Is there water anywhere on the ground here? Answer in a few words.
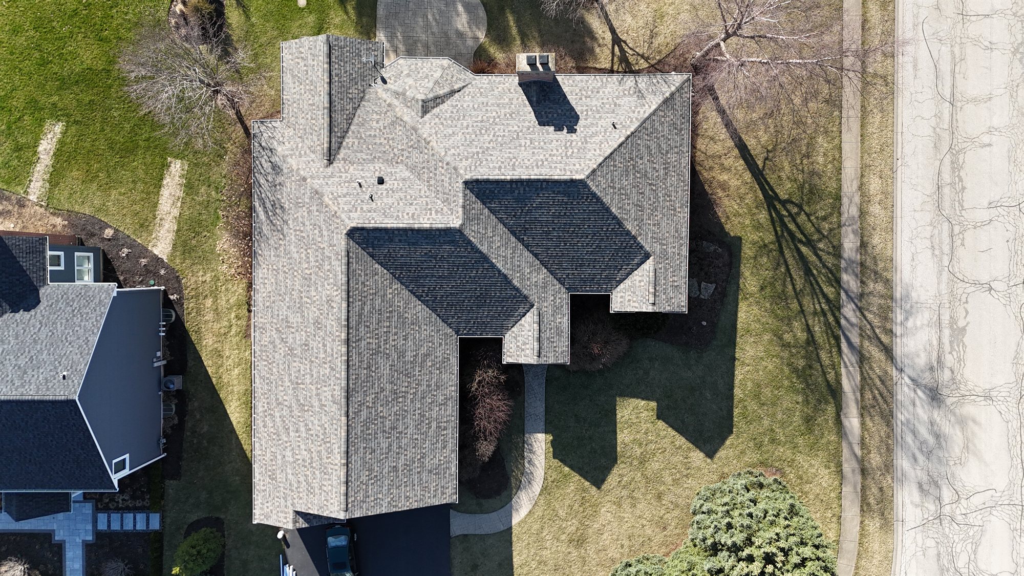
No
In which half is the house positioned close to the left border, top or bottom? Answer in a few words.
bottom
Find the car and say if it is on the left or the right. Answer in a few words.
left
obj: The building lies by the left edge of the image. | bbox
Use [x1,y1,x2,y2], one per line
[0,233,176,521]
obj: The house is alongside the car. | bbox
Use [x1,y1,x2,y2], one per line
[251,33,694,532]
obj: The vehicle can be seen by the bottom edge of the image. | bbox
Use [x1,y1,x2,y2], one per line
[323,520,360,576]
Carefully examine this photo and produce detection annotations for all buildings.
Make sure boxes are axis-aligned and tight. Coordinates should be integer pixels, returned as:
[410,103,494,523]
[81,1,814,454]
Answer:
[251,33,694,532]
[0,233,176,521]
